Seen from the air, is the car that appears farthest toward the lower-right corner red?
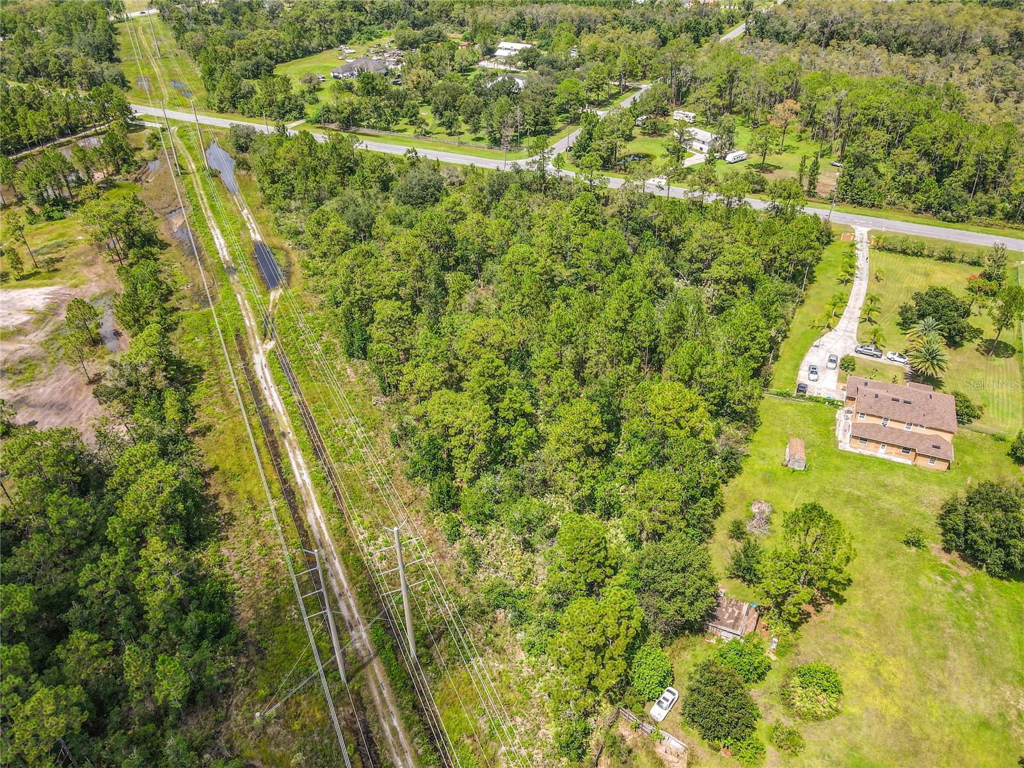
No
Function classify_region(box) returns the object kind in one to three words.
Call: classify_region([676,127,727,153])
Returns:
house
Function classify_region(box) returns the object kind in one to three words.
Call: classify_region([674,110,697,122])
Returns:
vehicle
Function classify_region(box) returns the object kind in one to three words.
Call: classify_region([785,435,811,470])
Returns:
shed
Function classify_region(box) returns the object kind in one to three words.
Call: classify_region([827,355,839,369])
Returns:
vehicle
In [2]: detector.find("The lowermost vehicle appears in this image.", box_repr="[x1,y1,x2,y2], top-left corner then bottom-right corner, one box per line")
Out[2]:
[650,685,684,722]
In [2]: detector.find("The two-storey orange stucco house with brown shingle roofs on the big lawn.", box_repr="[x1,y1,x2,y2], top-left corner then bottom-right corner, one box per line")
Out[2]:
[843,372,960,473]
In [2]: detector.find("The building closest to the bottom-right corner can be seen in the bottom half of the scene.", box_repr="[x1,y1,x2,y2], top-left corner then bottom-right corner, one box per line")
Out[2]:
[700,593,758,640]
